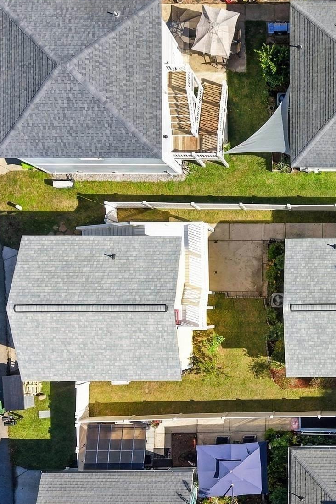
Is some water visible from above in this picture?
No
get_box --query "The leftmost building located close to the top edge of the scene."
[0,0,185,178]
